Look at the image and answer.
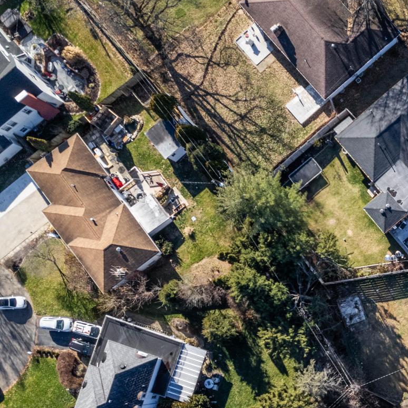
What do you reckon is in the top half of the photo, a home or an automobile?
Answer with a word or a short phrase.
home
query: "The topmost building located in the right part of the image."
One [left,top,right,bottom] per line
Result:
[241,0,401,102]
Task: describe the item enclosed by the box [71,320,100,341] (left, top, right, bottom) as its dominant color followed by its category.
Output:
white car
